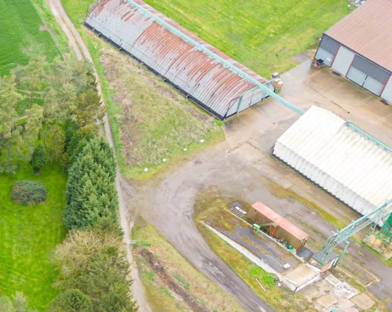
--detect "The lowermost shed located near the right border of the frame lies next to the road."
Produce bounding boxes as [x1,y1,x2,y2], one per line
[272,106,392,226]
